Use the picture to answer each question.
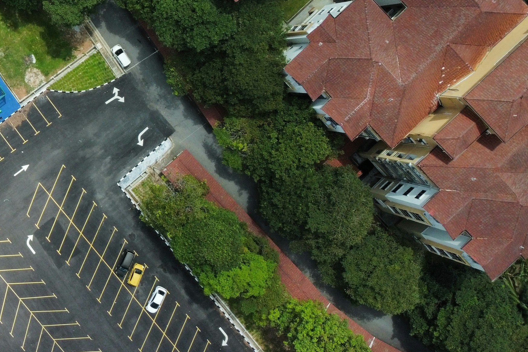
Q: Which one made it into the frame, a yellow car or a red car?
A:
yellow car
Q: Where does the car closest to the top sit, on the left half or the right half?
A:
left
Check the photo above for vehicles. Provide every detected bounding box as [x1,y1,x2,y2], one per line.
[147,284,165,313]
[118,249,139,276]
[111,43,131,69]
[128,262,144,287]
